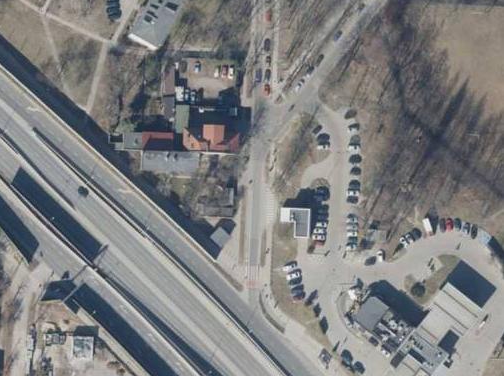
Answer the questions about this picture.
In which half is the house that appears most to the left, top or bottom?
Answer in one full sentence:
The house that appears most to the left is in the bottom half of the image.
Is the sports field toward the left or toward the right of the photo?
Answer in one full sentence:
It is on the right.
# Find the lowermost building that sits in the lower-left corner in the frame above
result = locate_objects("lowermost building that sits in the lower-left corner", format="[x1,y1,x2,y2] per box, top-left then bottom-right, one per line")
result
[73,337,93,359]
